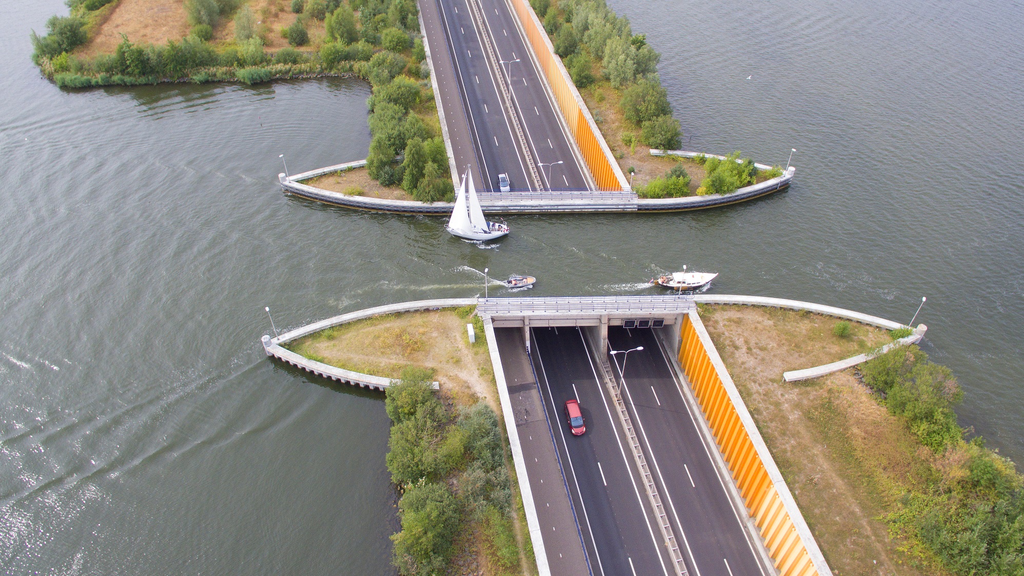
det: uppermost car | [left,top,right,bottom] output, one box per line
[497,174,512,191]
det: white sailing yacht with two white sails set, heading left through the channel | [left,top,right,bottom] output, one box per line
[442,161,516,241]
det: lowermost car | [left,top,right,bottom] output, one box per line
[563,404,587,441]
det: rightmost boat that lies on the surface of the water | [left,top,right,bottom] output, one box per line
[649,266,718,289]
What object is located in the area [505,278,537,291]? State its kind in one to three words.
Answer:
boat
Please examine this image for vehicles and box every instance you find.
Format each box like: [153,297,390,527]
[497,174,512,191]
[563,404,587,441]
